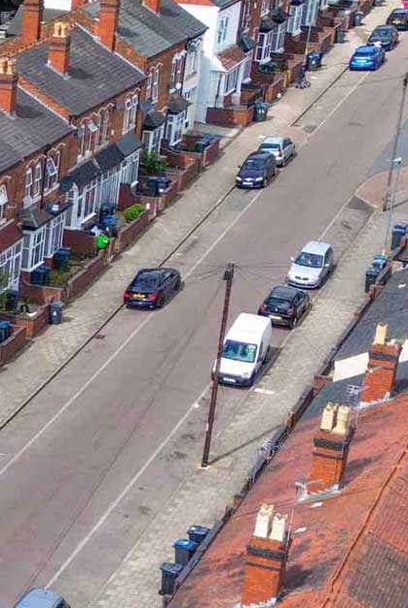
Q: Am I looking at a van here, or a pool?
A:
van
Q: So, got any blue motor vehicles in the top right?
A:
Yes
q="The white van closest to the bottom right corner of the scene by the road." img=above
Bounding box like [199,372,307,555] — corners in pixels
[217,306,279,377]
